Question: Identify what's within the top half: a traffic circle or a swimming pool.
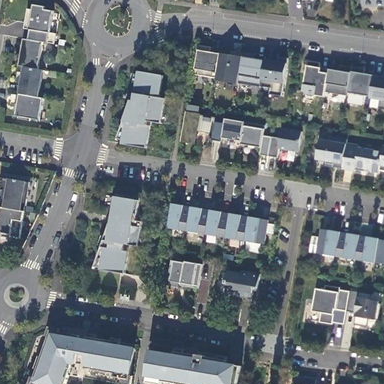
traffic circle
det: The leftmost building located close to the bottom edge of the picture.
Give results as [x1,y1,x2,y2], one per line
[24,326,138,384]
